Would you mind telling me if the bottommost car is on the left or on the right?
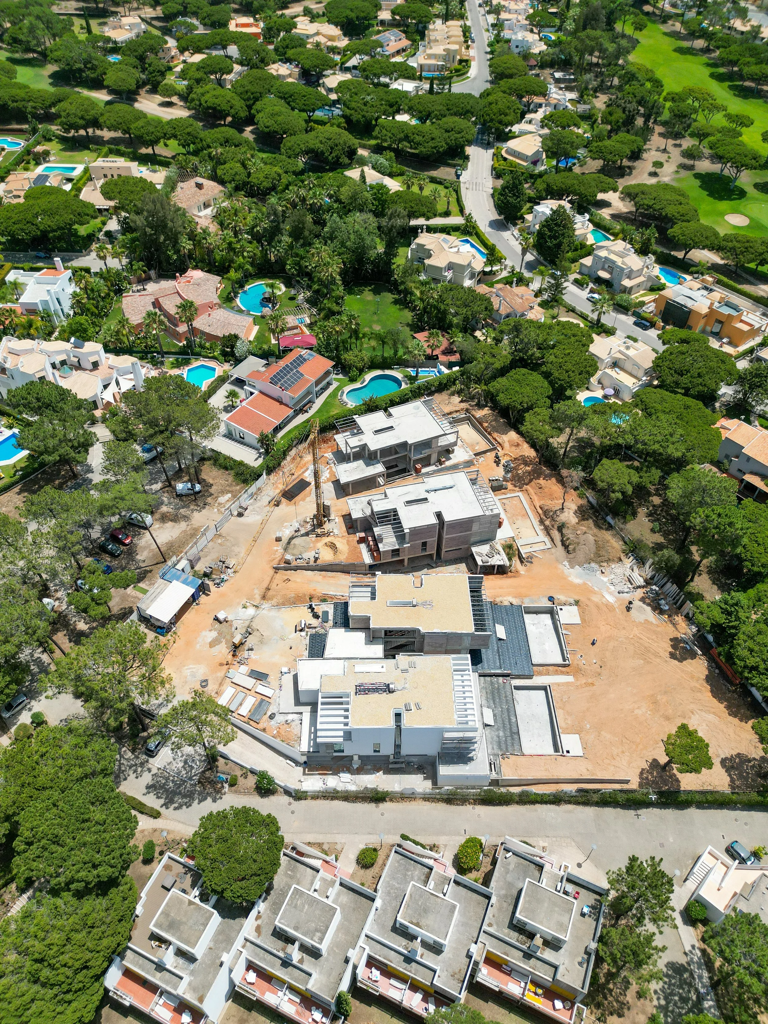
right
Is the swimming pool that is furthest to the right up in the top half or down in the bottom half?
top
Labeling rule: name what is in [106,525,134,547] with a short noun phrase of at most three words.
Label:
car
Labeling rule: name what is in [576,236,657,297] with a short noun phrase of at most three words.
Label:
house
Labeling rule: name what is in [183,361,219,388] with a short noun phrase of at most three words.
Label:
swimming pool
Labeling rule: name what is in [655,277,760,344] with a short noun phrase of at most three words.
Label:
house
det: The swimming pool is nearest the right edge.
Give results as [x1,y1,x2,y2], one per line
[656,265,687,285]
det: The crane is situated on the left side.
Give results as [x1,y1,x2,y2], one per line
[233,413,336,574]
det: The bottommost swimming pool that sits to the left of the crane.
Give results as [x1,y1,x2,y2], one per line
[0,430,24,463]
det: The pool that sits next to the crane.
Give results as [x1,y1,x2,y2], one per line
[341,371,407,407]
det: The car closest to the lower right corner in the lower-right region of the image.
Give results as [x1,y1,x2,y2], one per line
[724,832,761,862]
